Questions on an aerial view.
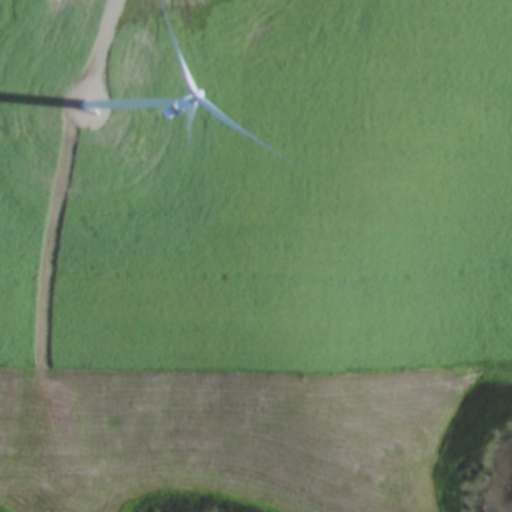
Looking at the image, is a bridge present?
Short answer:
No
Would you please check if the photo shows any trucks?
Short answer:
No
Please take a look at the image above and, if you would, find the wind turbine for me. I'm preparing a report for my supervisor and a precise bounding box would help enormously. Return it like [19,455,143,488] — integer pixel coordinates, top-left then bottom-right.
[80,0,290,159]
